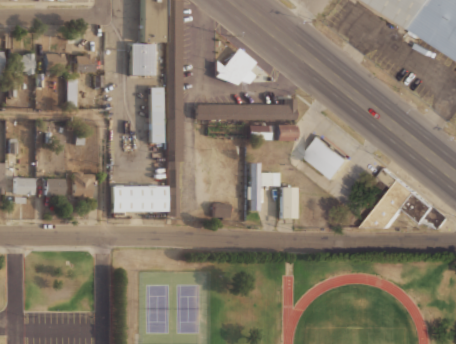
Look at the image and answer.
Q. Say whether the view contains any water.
No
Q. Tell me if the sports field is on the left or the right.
right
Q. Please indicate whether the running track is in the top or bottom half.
bottom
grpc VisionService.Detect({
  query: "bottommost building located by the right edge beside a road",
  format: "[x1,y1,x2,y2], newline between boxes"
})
[359,166,446,229]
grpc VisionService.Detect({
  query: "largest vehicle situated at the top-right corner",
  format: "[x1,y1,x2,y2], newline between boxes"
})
[412,43,437,56]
